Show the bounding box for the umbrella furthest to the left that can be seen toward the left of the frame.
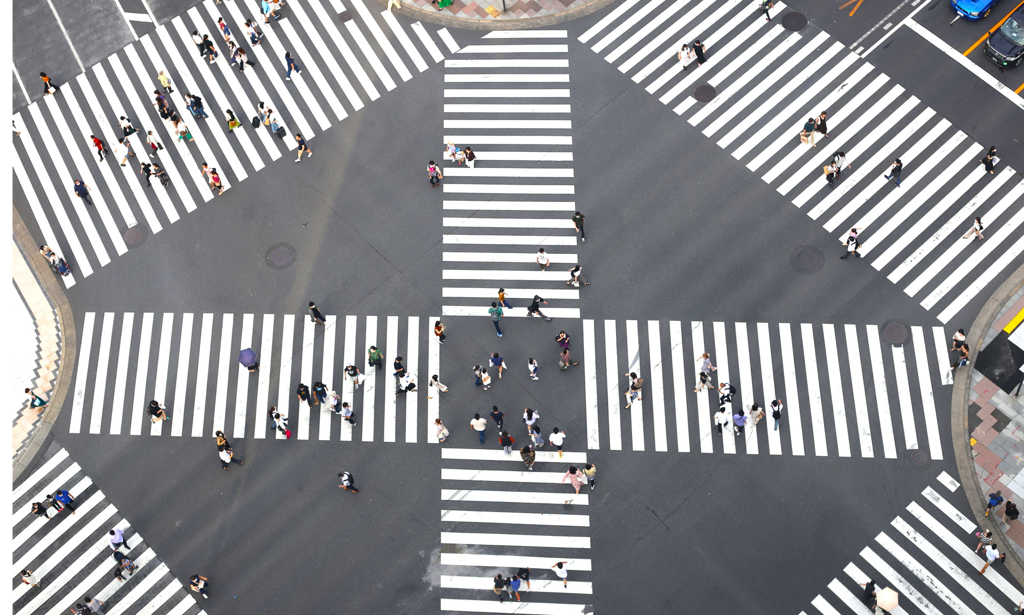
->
[237,351,256,370]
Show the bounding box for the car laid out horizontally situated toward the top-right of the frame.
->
[950,0,1003,25]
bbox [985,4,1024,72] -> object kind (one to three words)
car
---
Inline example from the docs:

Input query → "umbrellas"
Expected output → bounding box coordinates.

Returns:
[873,588,899,612]
[237,351,256,370]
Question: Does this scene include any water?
No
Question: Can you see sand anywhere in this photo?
No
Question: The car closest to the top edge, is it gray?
No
